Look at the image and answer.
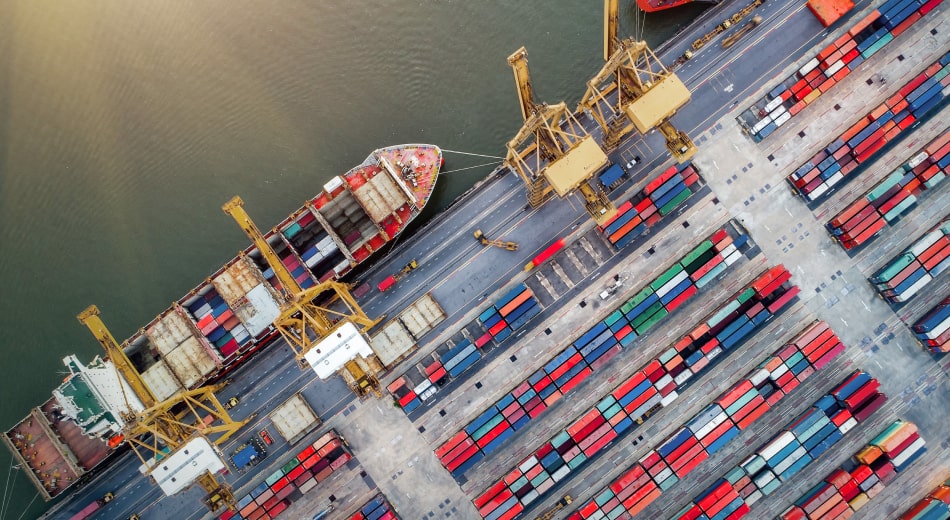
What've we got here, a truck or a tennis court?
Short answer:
truck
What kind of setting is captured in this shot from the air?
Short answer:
port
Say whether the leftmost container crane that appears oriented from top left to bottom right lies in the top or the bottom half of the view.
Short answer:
bottom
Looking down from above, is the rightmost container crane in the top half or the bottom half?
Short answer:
top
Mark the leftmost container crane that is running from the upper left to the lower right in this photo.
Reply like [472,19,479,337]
[79,299,253,516]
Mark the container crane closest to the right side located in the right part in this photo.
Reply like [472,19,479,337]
[576,0,702,166]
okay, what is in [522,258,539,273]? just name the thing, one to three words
vehicle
